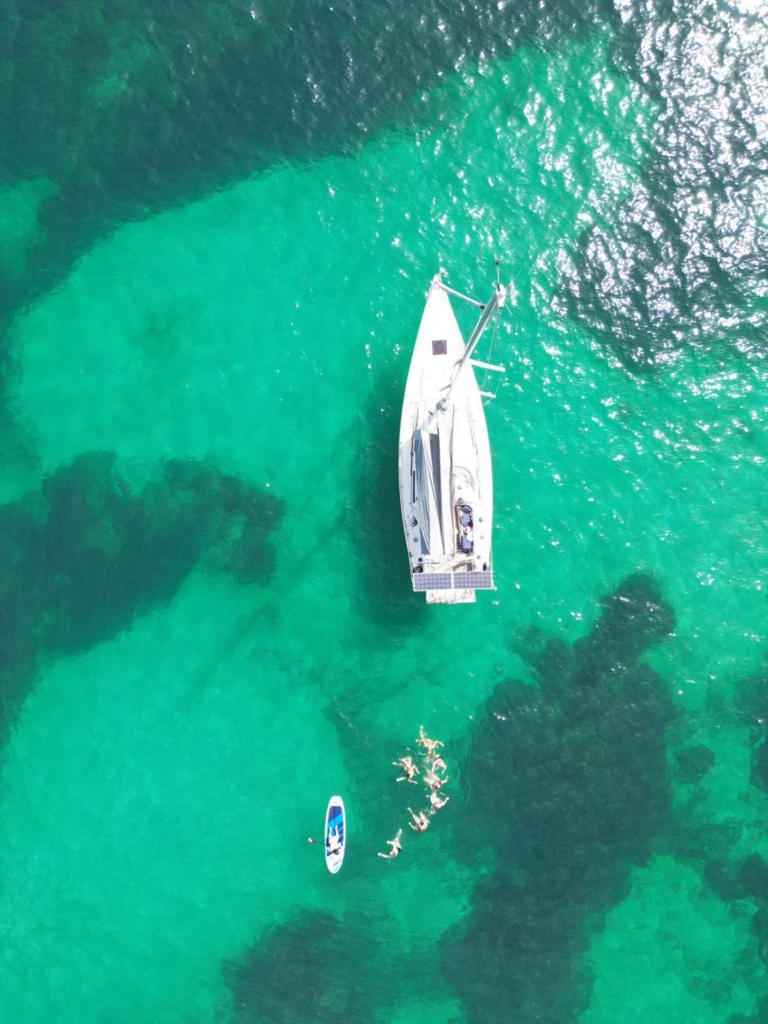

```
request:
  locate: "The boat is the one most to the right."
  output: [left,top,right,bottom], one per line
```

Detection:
[401,214,518,606]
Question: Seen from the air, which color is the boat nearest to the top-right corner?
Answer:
white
